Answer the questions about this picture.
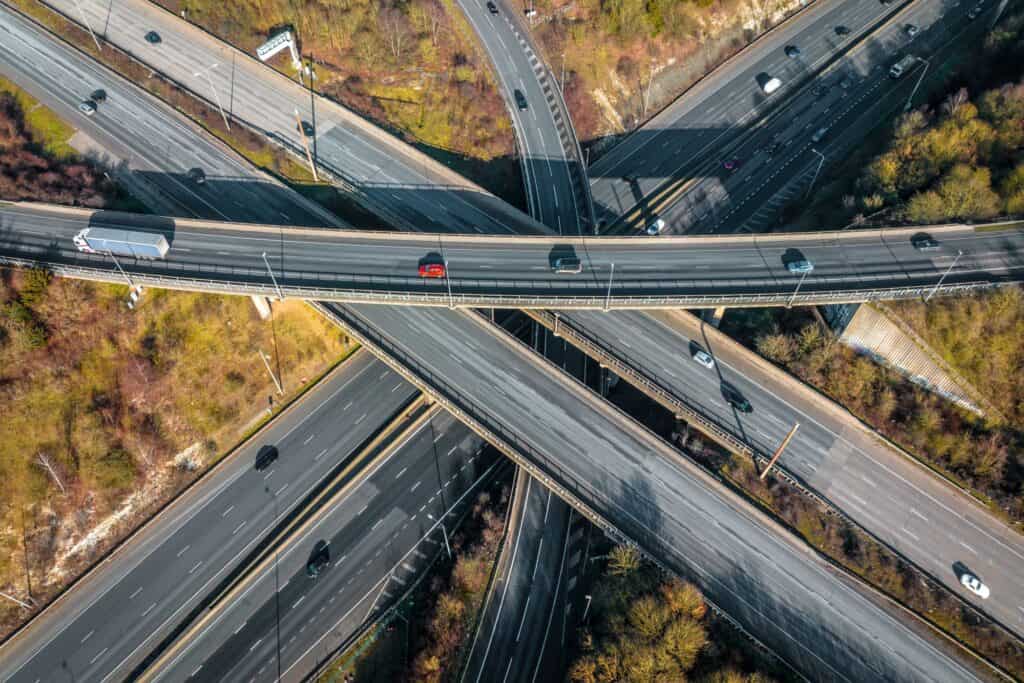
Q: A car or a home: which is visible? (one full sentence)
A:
Visible in the photo is a car.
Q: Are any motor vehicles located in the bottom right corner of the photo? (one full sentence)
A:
Yes, I can see a motor vehicle in the bottom right corner of the photo.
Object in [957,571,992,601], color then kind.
white car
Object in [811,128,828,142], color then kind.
blue car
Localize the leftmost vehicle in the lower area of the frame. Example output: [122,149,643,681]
[252,447,279,472]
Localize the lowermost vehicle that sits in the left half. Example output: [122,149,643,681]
[304,548,331,576]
